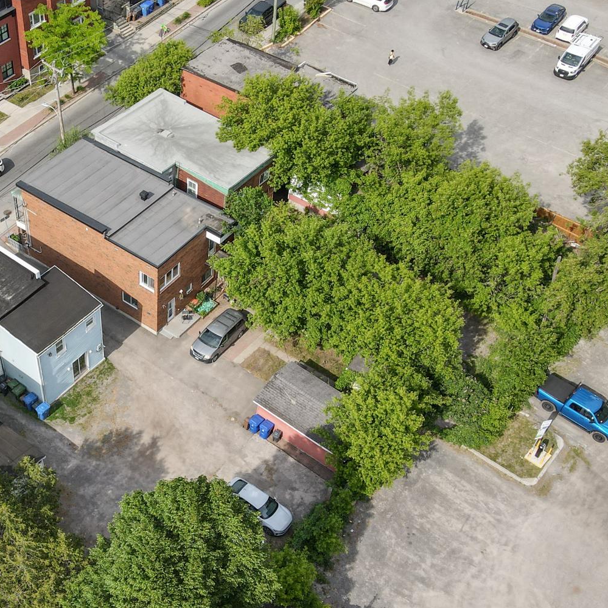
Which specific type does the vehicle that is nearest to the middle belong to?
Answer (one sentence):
The vehicle that is nearest to the middle in the image is an automobile.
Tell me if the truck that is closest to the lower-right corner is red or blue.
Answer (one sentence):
From above, the truck that is closest to the lower-right corner appears blue.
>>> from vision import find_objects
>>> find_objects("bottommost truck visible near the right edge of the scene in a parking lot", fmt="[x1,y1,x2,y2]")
[530,371,608,440]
